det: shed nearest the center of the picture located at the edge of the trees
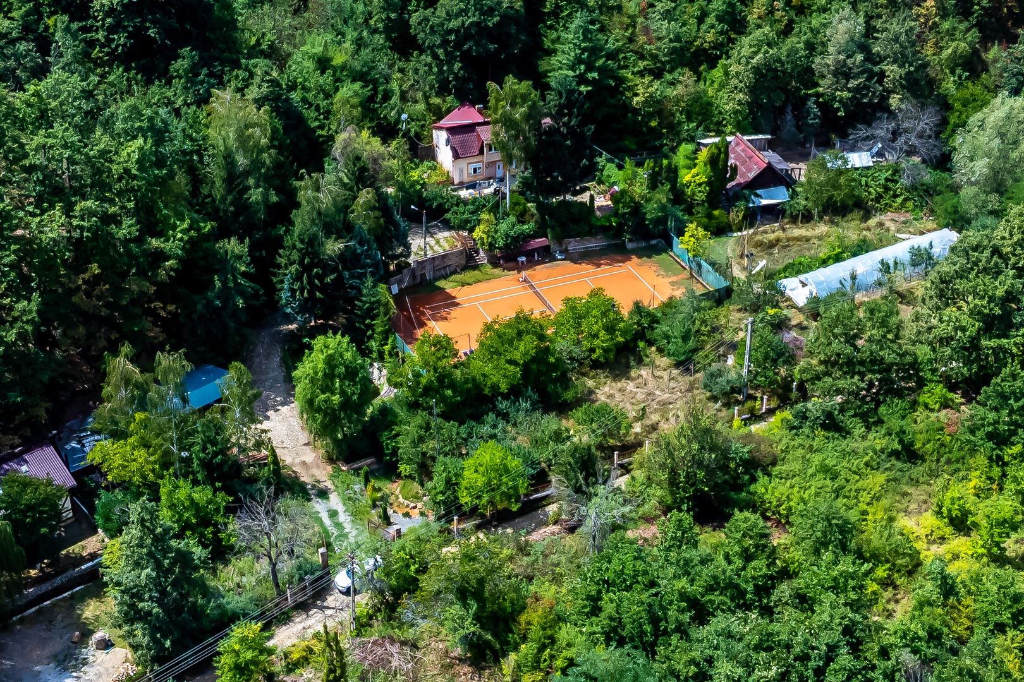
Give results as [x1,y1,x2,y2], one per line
[488,231,550,267]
